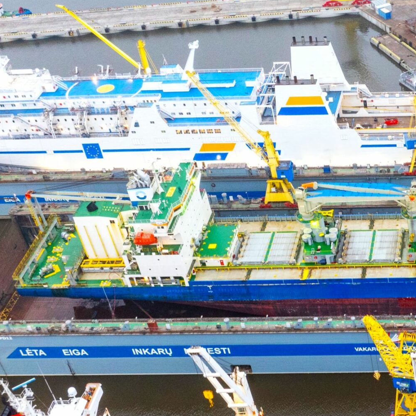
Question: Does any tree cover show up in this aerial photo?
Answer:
No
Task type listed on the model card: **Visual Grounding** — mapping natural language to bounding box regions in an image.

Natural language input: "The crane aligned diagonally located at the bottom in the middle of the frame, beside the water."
[184,339,264,416]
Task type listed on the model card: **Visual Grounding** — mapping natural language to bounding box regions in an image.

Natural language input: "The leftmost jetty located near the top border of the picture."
[0,0,358,41]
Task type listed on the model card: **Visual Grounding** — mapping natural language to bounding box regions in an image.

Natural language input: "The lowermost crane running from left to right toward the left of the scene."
[25,168,135,232]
